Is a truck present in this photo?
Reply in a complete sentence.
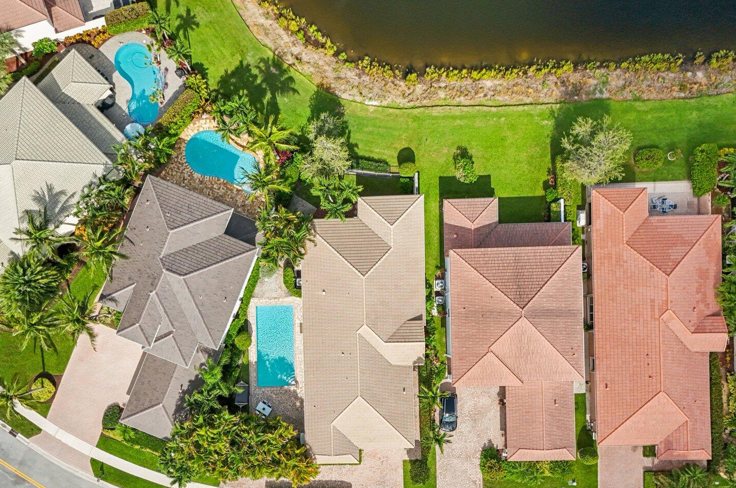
No, I can see no truck in this picture.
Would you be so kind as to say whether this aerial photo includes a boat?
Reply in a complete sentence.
No, no boat is visible in the scene.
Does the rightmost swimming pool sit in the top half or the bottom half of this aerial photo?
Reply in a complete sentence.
Seen from above, the rightmost swimming pool lies in the bottom half of the view.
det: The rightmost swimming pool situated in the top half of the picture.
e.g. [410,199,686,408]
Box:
[182,128,264,195]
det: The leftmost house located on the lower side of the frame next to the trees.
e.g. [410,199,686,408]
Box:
[98,173,258,446]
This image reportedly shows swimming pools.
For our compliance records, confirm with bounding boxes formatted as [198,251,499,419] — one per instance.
[112,40,167,125]
[182,128,264,195]
[255,304,299,394]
